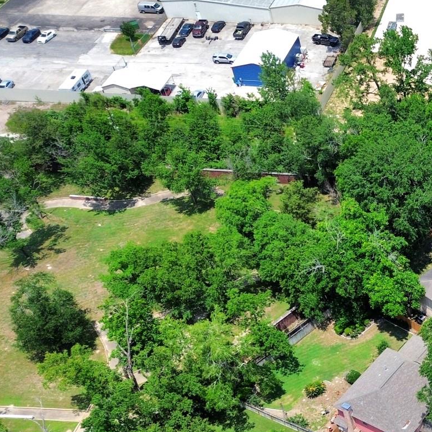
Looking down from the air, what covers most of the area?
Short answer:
trees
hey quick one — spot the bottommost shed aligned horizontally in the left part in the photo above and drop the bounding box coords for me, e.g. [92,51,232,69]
[102,66,178,98]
